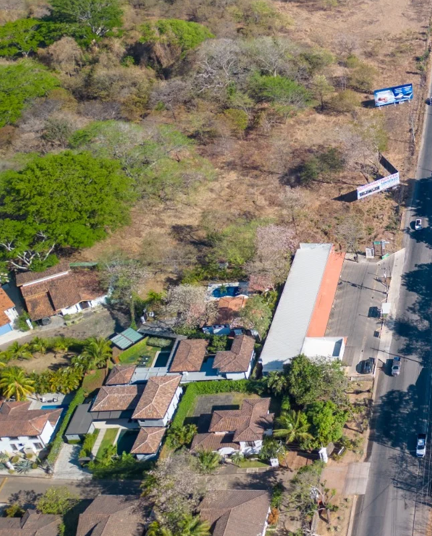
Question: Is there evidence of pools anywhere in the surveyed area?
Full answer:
Yes, there is a pool in the image.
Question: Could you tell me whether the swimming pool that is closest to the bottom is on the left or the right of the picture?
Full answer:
You can find the swimming pool that is closest to the bottom on the left side of the picture.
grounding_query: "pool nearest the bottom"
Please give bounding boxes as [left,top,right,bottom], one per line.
[115,429,141,455]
